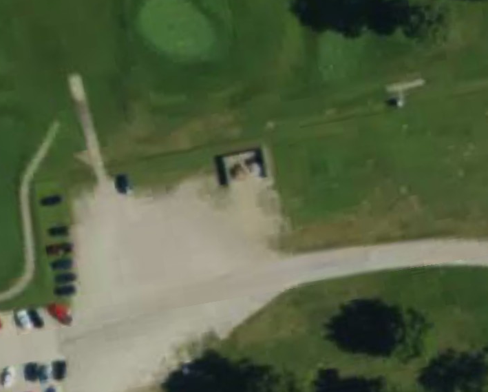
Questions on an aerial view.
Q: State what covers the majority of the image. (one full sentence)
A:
For the most part, this view shows grass.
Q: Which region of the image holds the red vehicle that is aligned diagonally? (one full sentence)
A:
The red vehicle that is aligned diagonally appears toward the bottom left of the photo.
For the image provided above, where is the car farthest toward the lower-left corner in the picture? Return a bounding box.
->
[2,365,16,386]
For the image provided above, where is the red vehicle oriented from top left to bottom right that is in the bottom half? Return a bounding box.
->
[52,305,73,325]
